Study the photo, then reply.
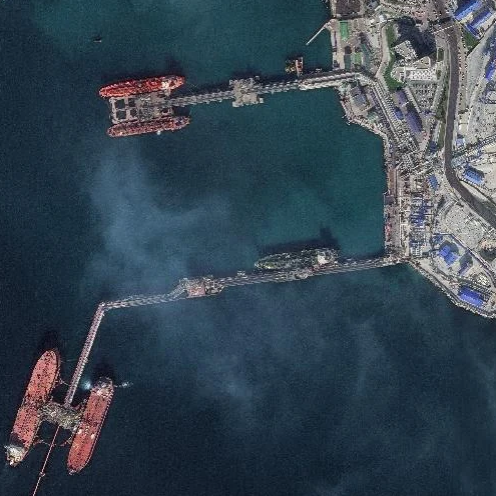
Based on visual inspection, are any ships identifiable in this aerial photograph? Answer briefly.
Yes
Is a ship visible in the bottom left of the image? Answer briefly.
Yes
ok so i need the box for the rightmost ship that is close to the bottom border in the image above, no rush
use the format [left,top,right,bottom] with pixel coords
[69,376,110,474]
